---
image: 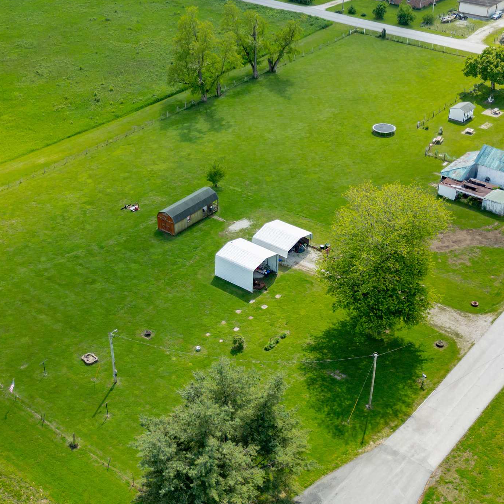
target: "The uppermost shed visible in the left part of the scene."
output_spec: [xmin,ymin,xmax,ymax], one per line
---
[154,187,220,236]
